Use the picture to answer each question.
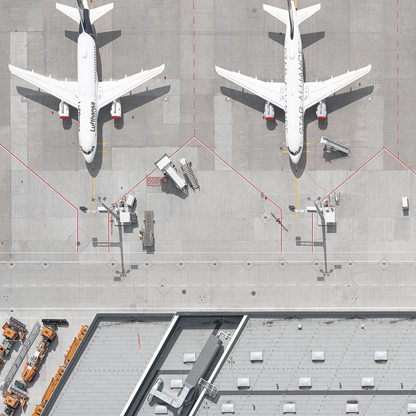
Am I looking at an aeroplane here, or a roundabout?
aeroplane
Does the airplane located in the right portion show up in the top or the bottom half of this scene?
top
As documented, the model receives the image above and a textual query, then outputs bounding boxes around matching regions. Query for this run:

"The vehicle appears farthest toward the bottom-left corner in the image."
[0,386,28,416]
